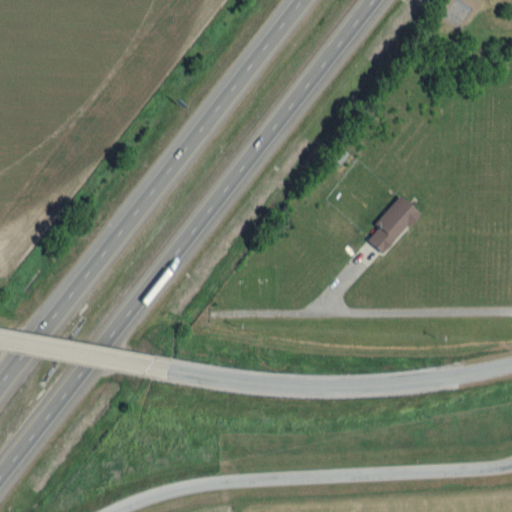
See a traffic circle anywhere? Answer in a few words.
No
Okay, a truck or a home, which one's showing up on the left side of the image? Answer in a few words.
truck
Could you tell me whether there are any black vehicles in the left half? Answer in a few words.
No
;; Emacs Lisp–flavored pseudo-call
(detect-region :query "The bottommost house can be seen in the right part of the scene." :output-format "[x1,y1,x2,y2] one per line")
[367,195,422,254]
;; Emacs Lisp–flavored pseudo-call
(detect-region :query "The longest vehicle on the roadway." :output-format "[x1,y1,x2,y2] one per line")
[141,259,182,308]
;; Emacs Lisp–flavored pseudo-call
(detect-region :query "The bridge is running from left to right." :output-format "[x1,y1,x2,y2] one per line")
[0,328,173,382]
